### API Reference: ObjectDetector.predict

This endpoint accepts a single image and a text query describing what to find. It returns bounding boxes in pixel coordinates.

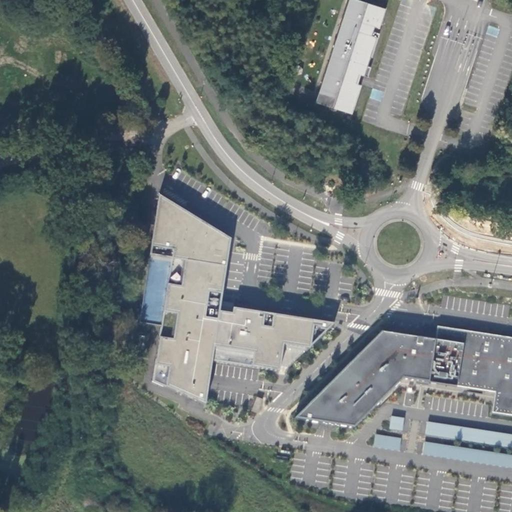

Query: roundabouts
[361,206,436,280]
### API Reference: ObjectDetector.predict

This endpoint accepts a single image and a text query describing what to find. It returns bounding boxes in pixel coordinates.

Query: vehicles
[442,24,450,36]
[280,450,291,454]
[276,454,290,460]
[172,168,180,179]
[340,294,351,300]
[202,187,212,198]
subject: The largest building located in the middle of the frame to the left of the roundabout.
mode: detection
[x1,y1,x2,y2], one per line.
[144,194,334,402]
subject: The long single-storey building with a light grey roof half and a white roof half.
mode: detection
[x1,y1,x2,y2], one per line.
[316,0,384,115]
